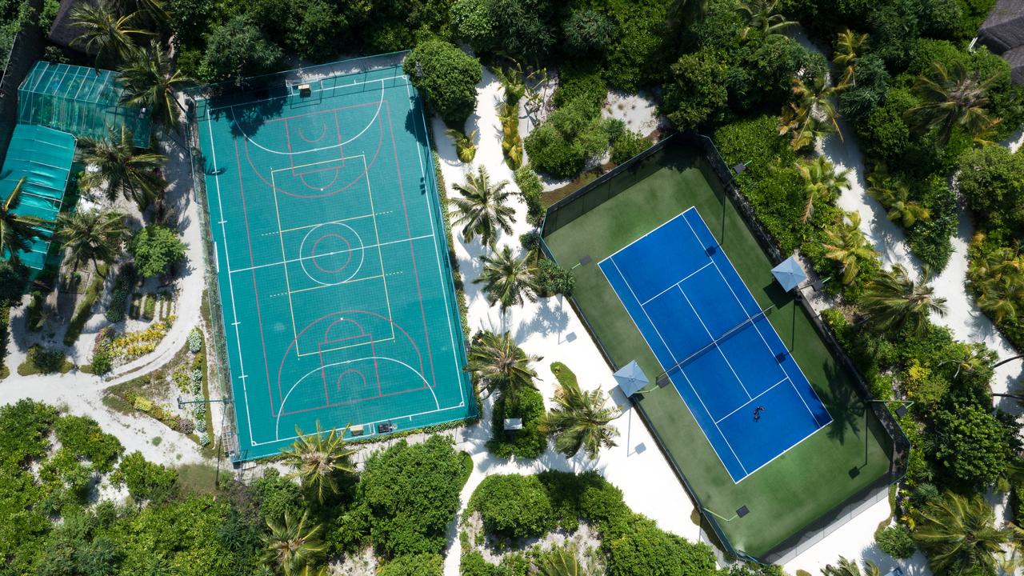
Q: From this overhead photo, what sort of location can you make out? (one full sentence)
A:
The area seen from above is a sports ground.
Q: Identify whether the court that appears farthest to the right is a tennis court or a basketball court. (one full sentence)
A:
The court that appears farthest to the right appears to be a tennis court.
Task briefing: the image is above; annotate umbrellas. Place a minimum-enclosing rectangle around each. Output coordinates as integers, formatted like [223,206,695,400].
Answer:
[612,360,649,397]
[770,257,806,292]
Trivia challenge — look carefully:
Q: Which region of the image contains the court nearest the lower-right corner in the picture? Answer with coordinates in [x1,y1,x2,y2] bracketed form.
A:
[540,143,895,559]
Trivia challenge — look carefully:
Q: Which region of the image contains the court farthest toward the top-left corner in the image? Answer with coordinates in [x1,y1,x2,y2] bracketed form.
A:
[195,63,476,463]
